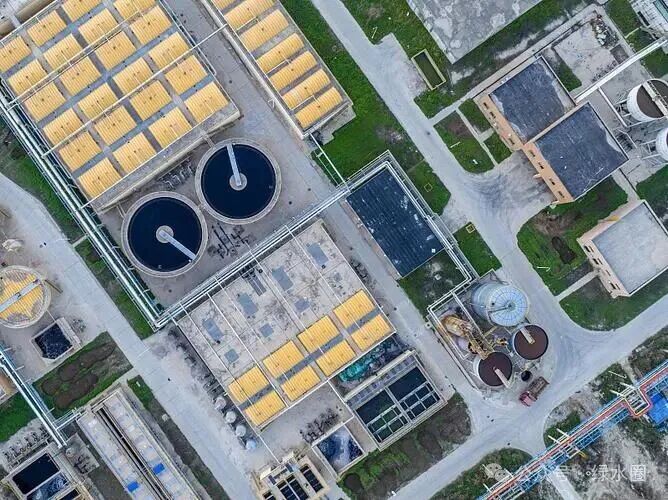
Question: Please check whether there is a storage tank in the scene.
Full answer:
Yes, this view includes a storage tank.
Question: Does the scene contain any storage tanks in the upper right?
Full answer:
Yes, the scene does show a storage tank in the upper right.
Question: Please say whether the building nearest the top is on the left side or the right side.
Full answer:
You can find the building nearest the top on the right side of the picture.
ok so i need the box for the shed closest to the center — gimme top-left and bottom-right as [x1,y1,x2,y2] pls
[346,168,446,278]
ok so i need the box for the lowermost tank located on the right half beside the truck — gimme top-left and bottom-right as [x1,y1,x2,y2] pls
[472,348,512,392]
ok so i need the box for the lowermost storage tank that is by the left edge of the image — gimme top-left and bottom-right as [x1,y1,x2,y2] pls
[0,265,57,328]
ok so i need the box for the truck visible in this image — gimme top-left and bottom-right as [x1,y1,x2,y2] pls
[521,378,553,409]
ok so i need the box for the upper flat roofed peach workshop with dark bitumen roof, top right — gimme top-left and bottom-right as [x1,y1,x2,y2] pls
[481,56,585,149]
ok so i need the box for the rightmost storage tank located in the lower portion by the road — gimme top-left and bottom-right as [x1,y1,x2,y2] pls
[506,321,549,360]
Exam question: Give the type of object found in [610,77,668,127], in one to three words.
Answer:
storage tank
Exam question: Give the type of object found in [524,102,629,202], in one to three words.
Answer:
building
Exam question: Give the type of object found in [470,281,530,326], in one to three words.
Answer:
storage tank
